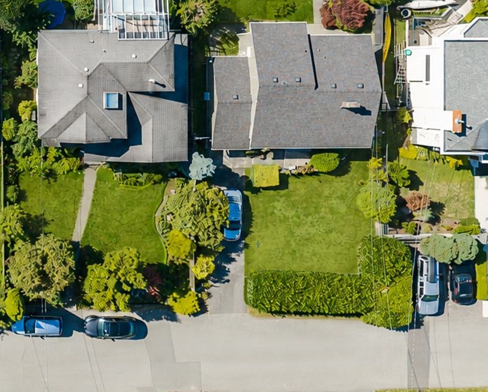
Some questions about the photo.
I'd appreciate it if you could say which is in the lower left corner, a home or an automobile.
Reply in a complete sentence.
There is an automobile in the lower left corner.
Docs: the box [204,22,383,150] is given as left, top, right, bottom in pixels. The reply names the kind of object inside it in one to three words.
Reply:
house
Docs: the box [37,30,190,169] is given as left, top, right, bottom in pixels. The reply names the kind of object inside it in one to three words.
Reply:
house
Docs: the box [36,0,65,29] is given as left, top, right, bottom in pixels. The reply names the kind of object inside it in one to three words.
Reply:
umbrella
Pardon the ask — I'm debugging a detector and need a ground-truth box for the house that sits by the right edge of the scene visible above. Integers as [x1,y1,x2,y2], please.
[381,19,488,155]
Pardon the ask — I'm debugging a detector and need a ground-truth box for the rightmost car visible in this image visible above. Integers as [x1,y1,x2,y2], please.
[446,260,477,314]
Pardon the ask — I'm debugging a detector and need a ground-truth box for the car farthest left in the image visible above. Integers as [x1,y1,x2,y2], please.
[9,312,65,339]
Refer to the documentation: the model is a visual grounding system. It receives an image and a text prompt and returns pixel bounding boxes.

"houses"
[204,22,383,150]
[381,19,488,155]
[37,30,190,169]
